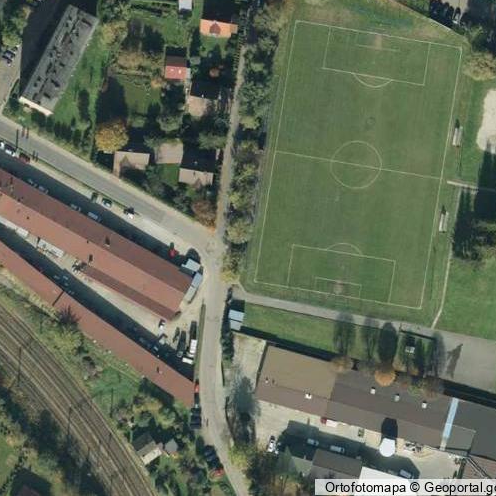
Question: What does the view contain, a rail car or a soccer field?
soccer field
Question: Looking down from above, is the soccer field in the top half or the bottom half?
top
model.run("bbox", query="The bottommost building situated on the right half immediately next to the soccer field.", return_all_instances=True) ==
[255,345,496,460]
